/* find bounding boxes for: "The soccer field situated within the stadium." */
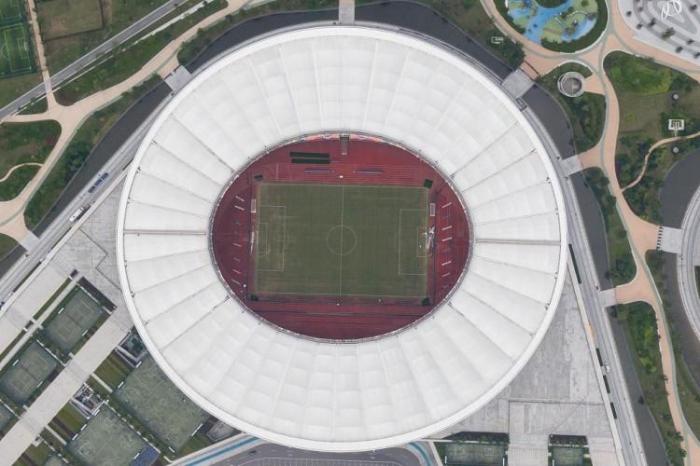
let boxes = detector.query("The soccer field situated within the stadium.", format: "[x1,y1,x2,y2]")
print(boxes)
[254,181,430,299]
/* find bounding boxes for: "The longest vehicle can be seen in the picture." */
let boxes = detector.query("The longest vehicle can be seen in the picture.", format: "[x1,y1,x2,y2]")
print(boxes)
[68,204,84,222]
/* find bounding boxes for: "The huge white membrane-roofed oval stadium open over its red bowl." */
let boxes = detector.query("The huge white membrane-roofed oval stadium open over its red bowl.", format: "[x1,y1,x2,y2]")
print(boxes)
[117,26,566,451]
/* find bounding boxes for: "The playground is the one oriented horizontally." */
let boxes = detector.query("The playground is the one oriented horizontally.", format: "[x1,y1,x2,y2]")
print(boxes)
[495,0,604,53]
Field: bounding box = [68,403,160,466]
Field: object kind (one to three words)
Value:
sports court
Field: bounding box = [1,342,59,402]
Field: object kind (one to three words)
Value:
sports court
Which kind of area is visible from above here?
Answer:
sports ground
